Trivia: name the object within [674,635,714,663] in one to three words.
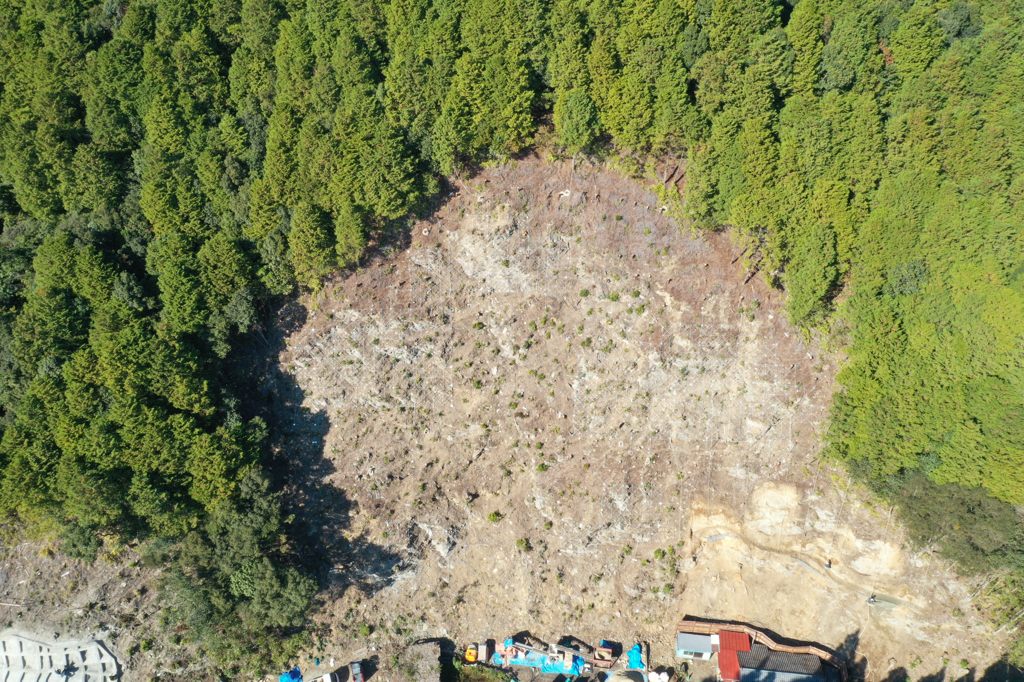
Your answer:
shed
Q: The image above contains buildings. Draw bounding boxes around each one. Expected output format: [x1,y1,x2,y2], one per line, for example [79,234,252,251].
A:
[674,635,714,663]
[713,631,840,682]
